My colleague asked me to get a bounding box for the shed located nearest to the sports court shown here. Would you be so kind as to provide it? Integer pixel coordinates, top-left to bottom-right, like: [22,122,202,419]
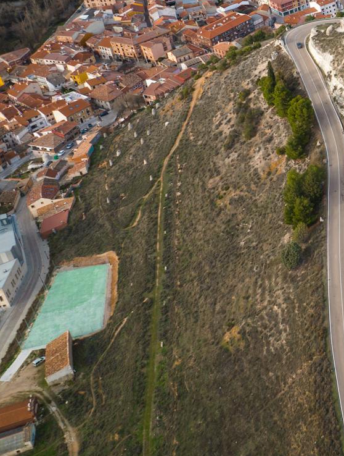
[41,337,79,385]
